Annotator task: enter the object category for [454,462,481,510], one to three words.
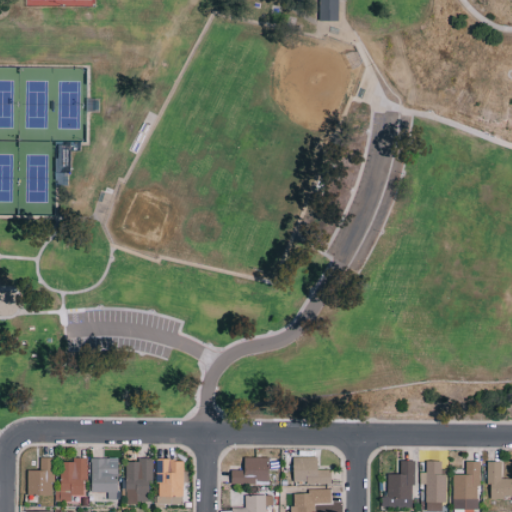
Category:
house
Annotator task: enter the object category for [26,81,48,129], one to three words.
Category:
tennis court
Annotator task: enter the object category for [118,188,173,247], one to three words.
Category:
baseball field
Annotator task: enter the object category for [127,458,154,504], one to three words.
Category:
house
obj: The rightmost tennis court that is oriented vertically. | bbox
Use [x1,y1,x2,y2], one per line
[58,81,81,129]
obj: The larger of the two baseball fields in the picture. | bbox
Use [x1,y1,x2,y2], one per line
[110,16,349,277]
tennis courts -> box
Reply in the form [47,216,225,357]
[0,81,16,128]
[0,154,13,202]
[26,81,48,129]
[58,81,81,129]
[26,154,48,202]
